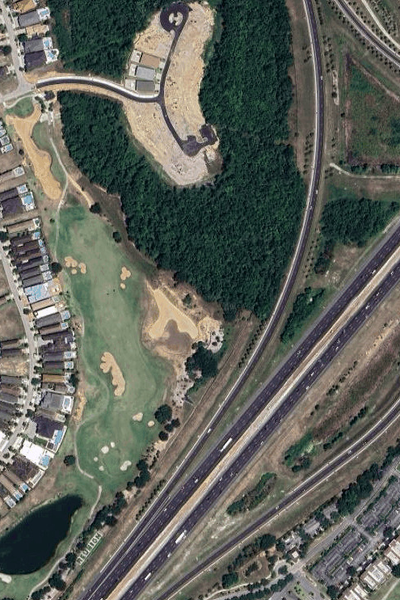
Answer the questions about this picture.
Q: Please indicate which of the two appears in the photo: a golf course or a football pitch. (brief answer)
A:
golf course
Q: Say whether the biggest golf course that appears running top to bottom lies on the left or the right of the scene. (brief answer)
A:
left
